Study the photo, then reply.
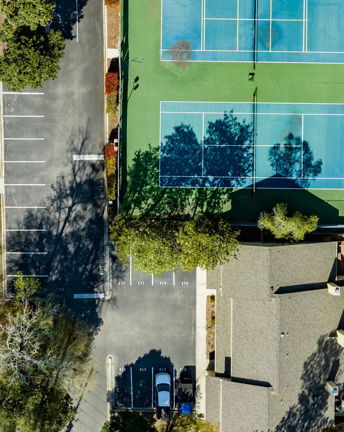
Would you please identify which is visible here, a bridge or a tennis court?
tennis court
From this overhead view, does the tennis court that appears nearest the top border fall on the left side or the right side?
right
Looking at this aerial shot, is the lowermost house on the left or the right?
right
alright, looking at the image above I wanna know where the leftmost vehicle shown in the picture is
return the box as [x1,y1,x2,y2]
[154,374,173,421]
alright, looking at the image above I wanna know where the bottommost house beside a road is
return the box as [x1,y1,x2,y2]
[204,373,338,432]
